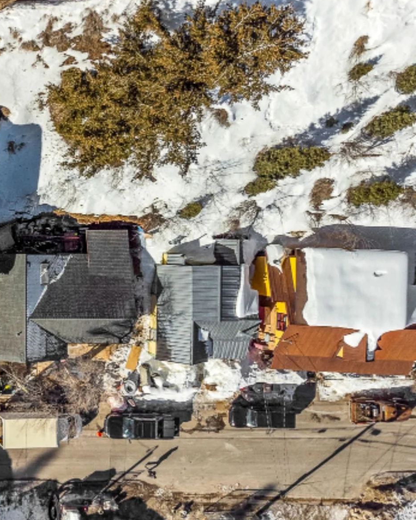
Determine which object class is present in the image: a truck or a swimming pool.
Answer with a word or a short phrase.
truck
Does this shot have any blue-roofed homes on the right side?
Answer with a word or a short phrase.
No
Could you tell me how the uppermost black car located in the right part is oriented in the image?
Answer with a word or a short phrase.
from left to right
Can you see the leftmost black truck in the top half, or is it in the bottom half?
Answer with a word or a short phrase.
bottom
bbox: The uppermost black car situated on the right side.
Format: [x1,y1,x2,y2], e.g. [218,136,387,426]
[227,401,299,434]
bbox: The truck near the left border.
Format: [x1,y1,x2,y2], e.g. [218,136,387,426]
[0,414,77,450]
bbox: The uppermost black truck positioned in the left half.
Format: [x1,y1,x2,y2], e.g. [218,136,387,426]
[105,411,181,445]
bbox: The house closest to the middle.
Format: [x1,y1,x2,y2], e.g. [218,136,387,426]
[144,239,261,365]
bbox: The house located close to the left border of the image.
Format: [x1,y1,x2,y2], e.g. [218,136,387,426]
[0,230,137,364]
